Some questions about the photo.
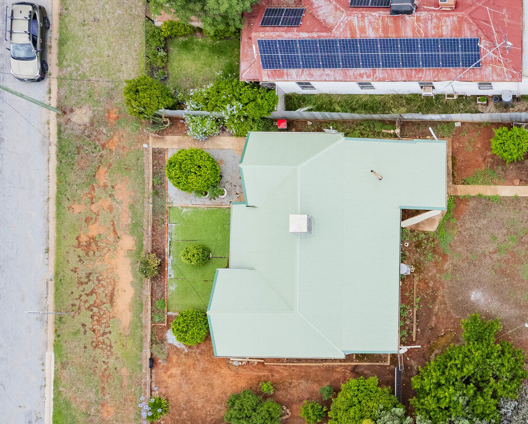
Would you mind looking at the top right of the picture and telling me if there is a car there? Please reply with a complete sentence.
No, the scene shows no car at the top right of the picture.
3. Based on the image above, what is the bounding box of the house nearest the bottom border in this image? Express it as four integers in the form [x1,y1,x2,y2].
[206,131,448,359]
